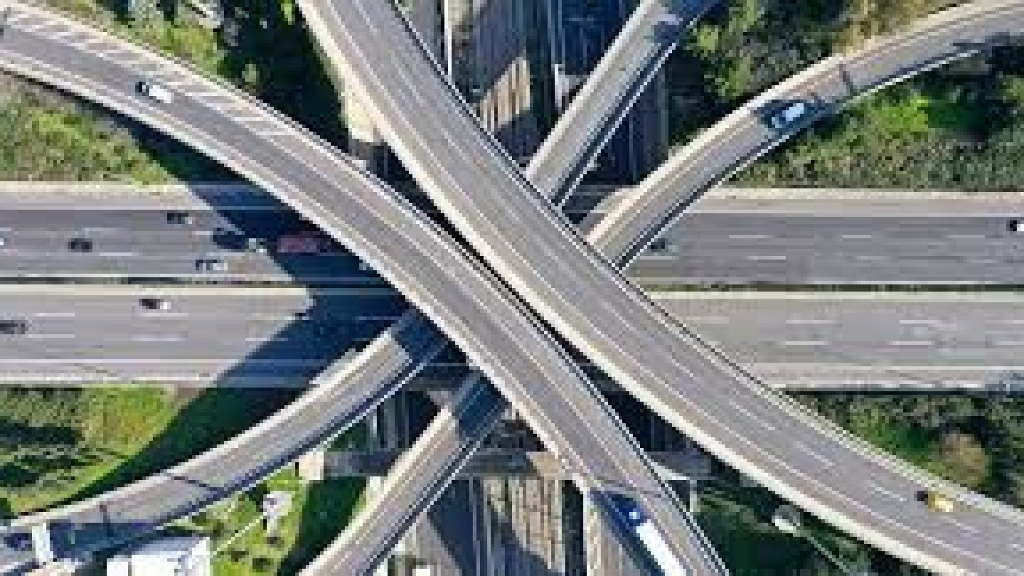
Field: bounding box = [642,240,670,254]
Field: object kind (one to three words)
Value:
car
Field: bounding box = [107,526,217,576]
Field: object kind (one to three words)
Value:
building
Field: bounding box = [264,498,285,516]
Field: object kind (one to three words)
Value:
shed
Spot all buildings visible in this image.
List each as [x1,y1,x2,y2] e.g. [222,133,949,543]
[264,498,285,516]
[107,526,217,576]
[27,560,90,576]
